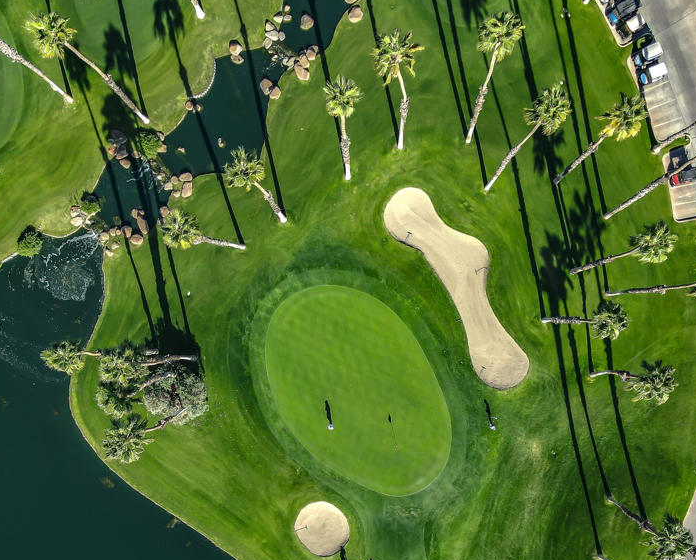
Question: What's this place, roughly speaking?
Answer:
golf course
